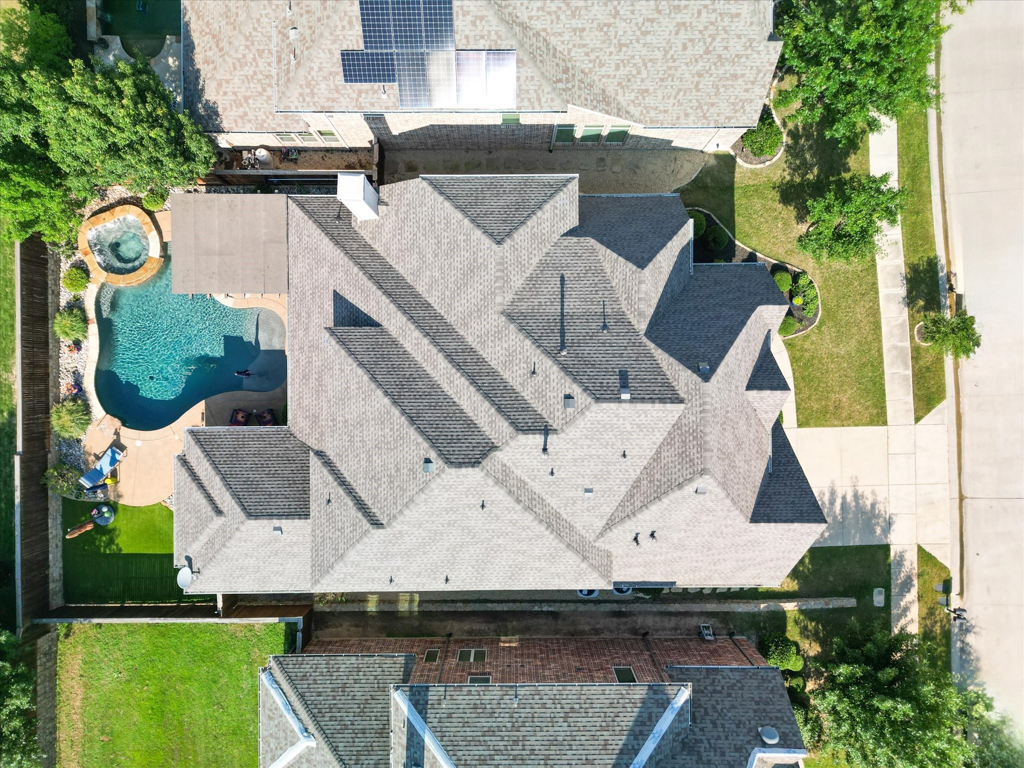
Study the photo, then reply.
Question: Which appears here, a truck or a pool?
pool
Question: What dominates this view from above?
buildings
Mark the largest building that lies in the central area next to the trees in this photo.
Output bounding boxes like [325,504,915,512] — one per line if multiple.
[171,172,826,596]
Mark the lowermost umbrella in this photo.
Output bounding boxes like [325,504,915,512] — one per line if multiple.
[66,523,105,538]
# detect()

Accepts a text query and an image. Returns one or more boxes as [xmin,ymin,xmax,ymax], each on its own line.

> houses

[259,632,809,768]
[171,172,826,596]
[181,0,785,154]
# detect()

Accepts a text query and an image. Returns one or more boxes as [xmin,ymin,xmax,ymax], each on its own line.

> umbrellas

[66,523,105,538]
[84,482,119,493]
